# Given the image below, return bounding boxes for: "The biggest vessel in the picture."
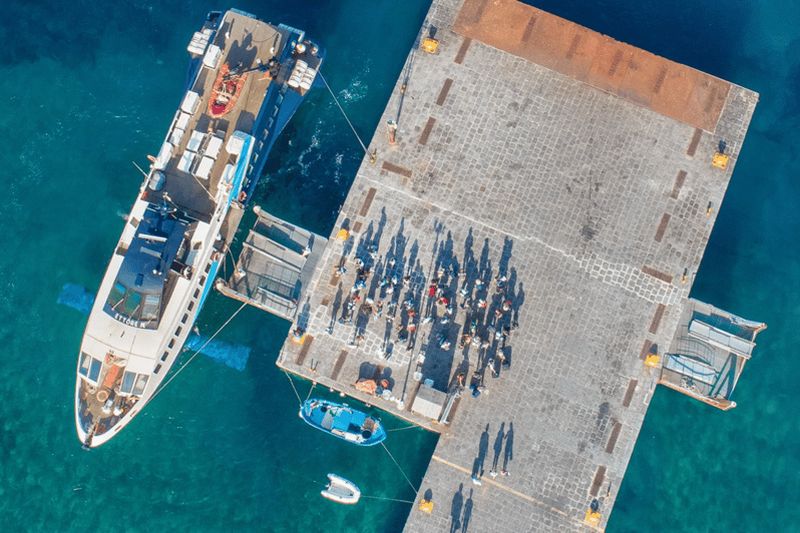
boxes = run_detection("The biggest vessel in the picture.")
[60,6,323,453]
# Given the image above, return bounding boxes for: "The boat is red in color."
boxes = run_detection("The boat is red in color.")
[211,63,246,119]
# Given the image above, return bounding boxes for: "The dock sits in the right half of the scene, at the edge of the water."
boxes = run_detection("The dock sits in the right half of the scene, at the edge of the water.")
[277,0,759,533]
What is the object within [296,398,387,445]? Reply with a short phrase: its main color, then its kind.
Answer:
blue boat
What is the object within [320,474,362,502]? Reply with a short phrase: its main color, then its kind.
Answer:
white boat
